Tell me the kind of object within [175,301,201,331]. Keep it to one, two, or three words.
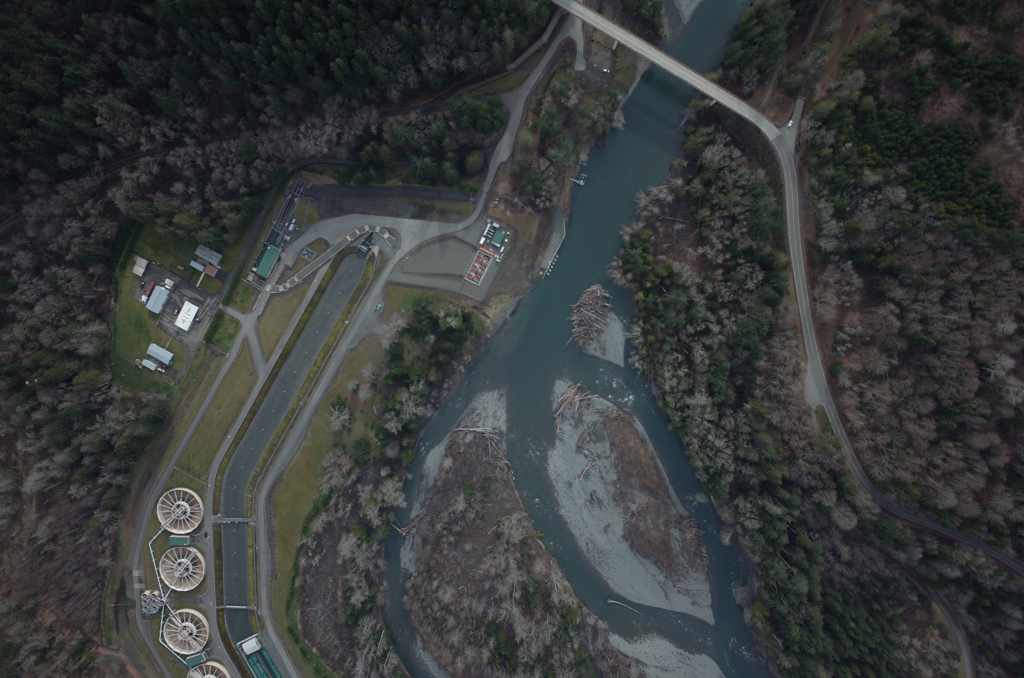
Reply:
building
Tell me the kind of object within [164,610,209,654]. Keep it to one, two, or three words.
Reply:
storage tank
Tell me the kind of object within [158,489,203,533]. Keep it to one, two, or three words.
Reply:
storage tank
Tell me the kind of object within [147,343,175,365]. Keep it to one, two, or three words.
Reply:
house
